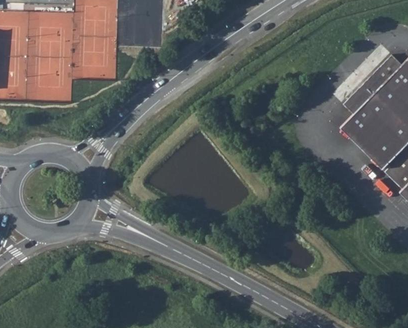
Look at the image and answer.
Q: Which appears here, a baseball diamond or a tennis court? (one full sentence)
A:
I can see a tennis court in this picture.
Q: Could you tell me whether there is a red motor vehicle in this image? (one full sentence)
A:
Yes, a red motor vehicle can be made out from above.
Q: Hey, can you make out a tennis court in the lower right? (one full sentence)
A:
No, the scene shows no tennis court in the lower right.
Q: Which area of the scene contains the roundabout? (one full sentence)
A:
The roundabout sits in the left section of the image.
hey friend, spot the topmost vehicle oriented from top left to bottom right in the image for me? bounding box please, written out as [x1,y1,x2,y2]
[361,165,378,182]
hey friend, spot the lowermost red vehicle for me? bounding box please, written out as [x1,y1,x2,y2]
[375,179,392,197]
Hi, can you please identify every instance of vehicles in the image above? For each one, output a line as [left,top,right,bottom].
[58,221,70,226]
[31,160,42,168]
[361,165,378,182]
[2,216,8,227]
[249,23,261,32]
[25,240,36,249]
[264,23,276,31]
[74,144,85,152]
[114,130,124,138]
[375,179,392,197]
